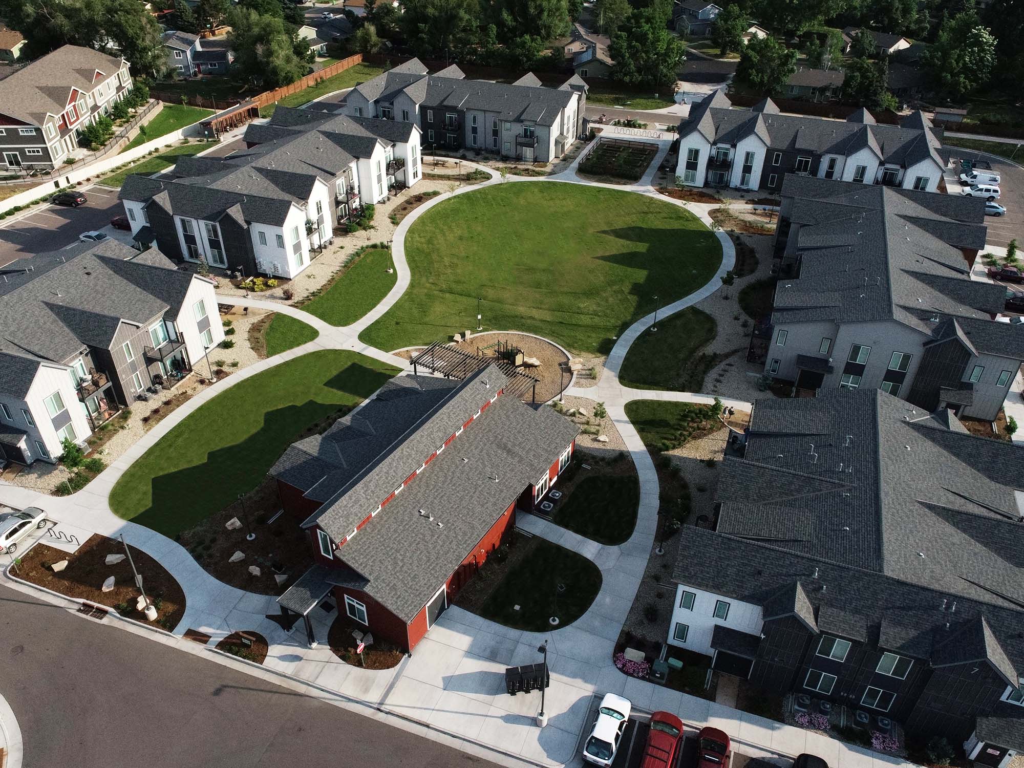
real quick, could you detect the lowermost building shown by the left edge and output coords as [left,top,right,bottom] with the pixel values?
[0,237,223,471]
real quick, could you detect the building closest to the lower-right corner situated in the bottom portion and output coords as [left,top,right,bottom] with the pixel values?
[663,388,1024,768]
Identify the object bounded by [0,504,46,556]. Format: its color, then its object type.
white car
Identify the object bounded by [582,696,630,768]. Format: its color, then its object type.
white car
